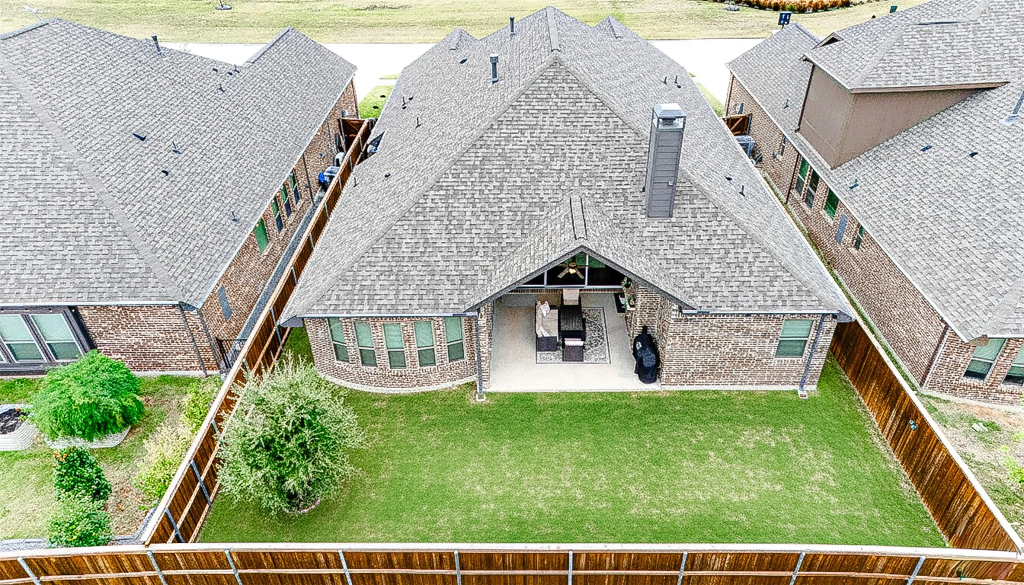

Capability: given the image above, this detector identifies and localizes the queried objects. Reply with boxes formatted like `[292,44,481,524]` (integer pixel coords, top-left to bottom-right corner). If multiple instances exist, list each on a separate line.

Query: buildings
[723,0,1024,416]
[0,15,355,379]
[277,4,866,395]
